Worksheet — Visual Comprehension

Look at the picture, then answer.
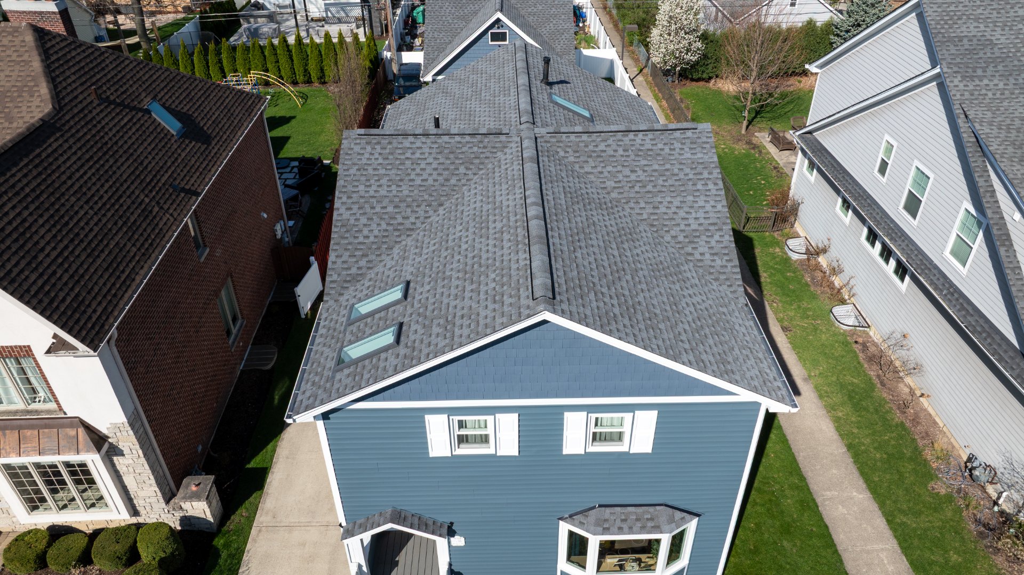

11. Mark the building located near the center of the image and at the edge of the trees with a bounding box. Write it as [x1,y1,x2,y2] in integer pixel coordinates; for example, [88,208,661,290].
[285,37,803,575]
